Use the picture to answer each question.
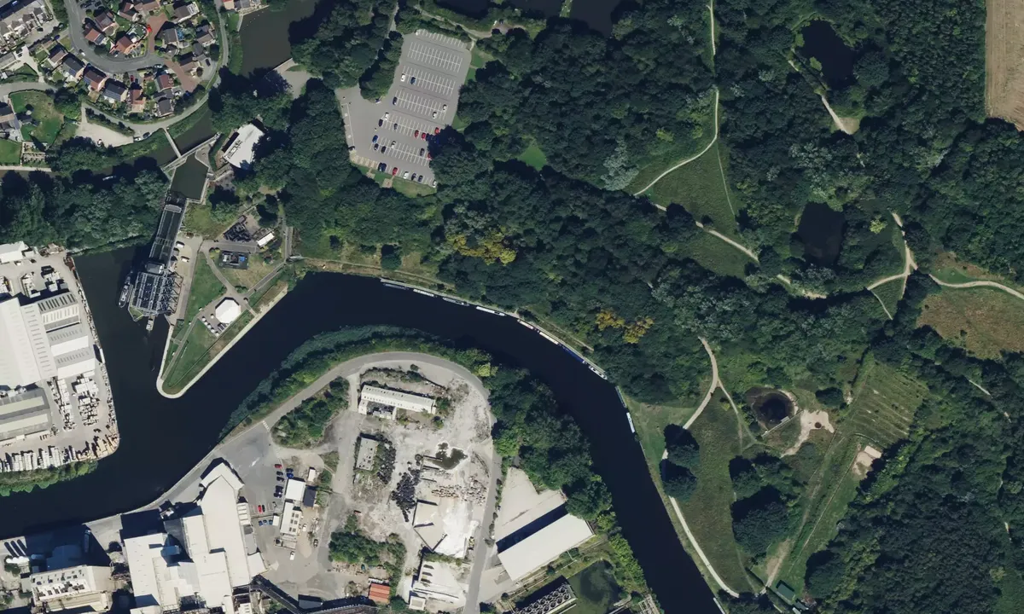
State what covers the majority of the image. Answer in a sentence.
What you mostly see from above here is trees.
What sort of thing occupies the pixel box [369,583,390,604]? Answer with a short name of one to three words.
shed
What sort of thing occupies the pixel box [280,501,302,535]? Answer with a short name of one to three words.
building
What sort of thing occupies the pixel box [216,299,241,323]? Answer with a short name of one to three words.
building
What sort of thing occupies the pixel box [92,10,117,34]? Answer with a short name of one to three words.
house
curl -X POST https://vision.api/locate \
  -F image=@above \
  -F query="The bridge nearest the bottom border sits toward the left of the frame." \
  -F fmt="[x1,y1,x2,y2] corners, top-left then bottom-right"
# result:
[148,205,185,267]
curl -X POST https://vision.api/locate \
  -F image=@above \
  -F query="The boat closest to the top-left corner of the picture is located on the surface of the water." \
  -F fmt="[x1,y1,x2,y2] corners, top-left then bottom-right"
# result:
[120,270,133,306]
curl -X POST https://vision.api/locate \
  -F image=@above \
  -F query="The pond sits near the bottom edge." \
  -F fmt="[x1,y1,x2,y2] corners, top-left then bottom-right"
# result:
[563,560,623,614]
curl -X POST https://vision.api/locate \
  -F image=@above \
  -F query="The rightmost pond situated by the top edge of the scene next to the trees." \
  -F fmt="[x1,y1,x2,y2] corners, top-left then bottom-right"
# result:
[801,20,854,88]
